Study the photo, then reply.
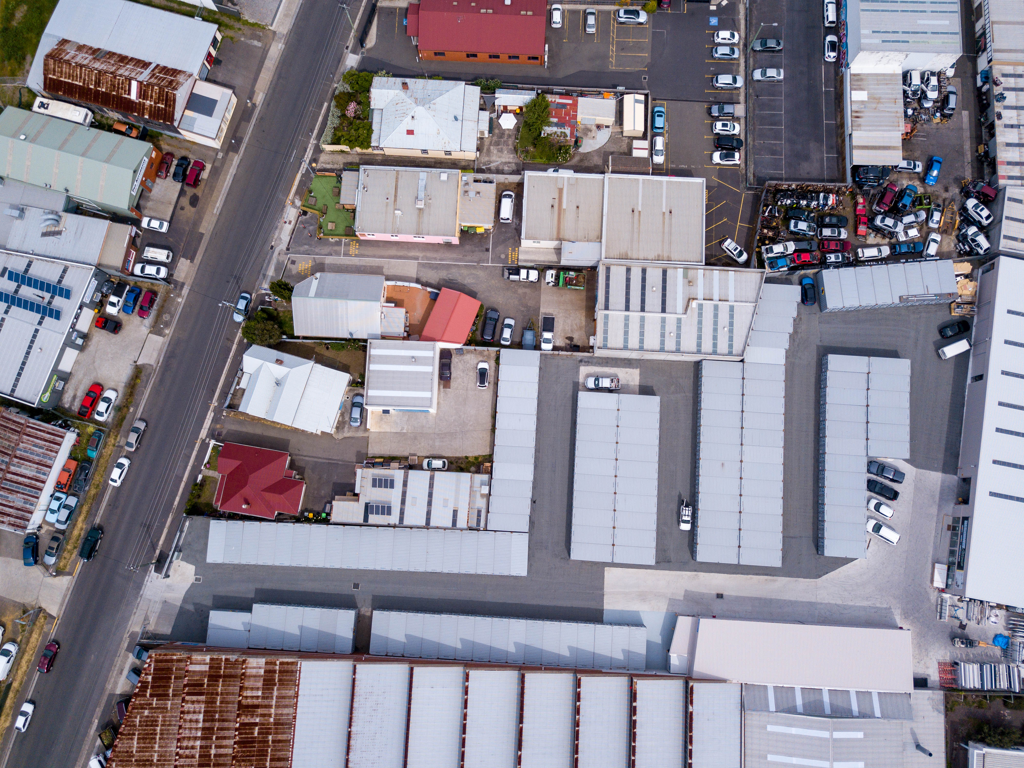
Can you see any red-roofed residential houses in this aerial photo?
Yes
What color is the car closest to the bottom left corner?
white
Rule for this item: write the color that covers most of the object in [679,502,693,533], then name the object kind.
white vehicle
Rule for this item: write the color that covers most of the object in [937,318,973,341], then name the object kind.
black car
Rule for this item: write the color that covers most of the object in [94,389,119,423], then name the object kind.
white car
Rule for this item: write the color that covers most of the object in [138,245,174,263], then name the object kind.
white vehicle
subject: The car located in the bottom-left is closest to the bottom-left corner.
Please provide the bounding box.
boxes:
[12,700,36,734]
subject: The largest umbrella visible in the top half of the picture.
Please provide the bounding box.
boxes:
[499,114,517,129]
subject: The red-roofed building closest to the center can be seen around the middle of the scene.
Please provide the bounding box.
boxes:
[420,288,481,346]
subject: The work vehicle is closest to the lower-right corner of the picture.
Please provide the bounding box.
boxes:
[951,637,993,649]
